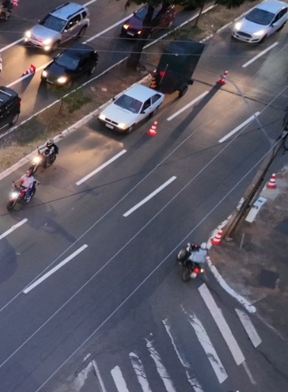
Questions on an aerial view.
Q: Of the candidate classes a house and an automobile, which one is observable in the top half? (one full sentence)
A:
What appears in the top half is an automobile.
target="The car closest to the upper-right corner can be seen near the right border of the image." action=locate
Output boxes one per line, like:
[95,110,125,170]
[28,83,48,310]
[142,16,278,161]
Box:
[232,0,288,42]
